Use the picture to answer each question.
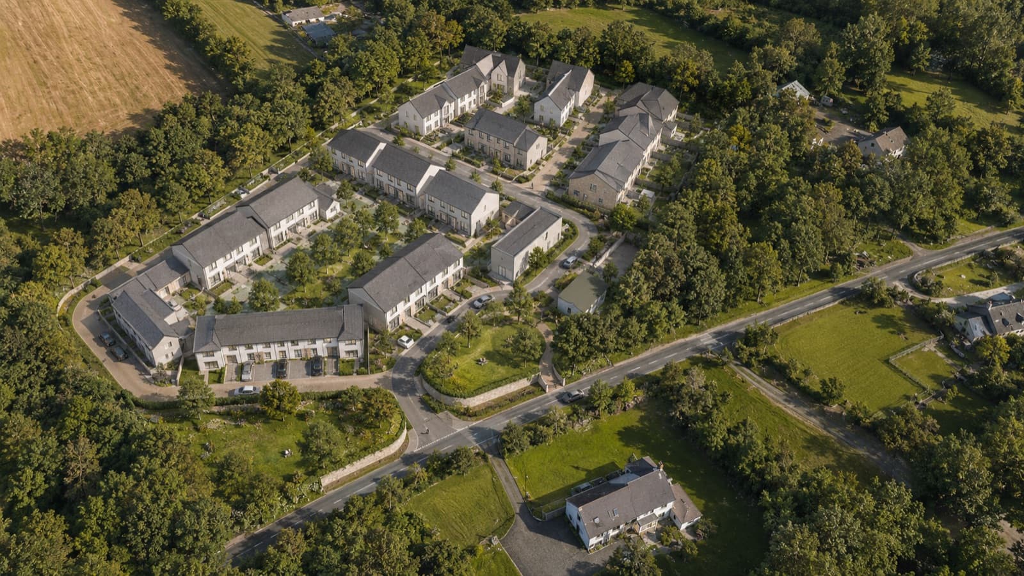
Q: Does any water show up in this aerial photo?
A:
No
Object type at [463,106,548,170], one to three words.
house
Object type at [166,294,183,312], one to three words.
car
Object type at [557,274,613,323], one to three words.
shed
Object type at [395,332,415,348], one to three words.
car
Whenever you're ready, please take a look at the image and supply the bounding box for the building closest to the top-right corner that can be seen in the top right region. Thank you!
[860,121,911,169]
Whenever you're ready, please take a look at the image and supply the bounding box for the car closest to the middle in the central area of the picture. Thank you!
[472,291,494,308]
